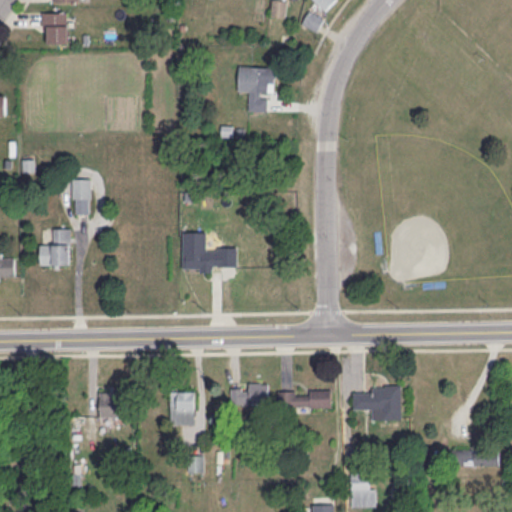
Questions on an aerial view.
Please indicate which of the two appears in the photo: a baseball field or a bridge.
baseball field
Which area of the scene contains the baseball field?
right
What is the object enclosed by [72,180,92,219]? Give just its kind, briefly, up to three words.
house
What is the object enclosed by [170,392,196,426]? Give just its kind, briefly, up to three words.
house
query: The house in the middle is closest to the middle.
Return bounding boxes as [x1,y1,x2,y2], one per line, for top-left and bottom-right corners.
[182,232,240,274]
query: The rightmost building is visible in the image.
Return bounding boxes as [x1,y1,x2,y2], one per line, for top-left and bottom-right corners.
[456,451,502,468]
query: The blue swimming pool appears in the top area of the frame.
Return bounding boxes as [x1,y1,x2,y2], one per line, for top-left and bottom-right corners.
[104,26,118,44]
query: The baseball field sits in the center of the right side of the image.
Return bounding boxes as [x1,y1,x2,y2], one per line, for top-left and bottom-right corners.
[391,215,450,282]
